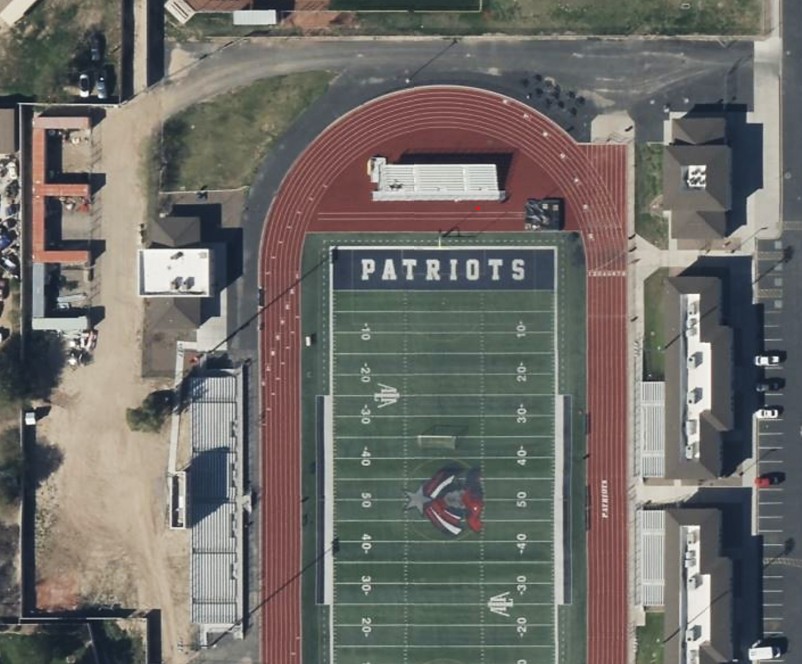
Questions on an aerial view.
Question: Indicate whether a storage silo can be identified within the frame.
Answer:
No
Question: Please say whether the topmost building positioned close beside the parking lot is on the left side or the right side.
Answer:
right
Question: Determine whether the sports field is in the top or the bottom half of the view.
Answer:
bottom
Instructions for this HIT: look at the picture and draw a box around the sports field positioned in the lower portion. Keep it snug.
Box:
[301,233,585,664]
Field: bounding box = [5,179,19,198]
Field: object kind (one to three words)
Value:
vehicle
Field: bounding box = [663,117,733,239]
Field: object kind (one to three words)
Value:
building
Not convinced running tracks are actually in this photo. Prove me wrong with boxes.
[258,86,628,664]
